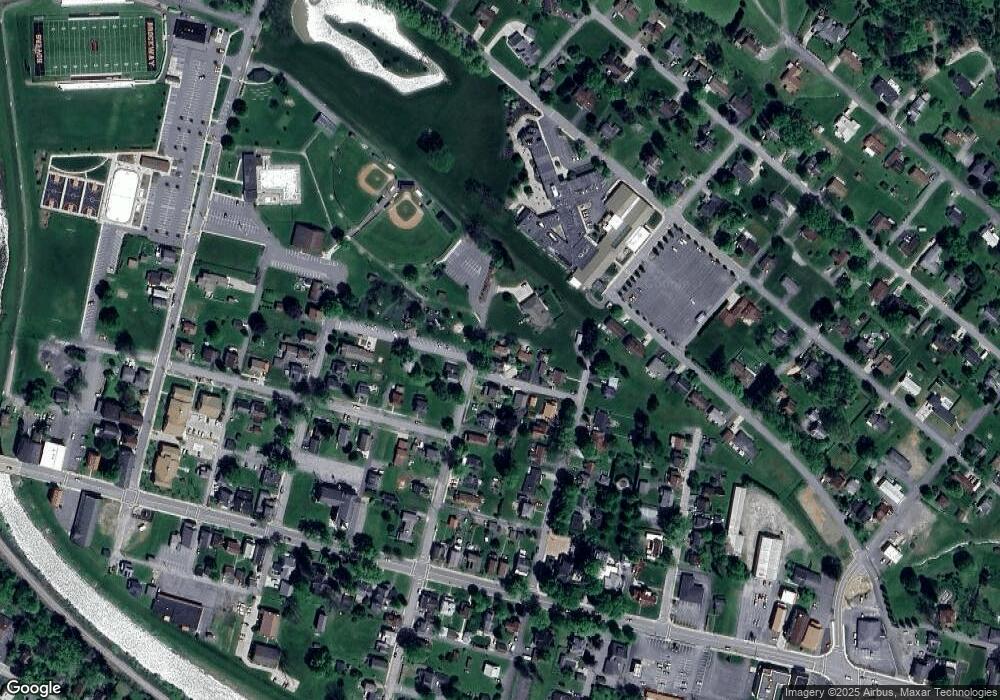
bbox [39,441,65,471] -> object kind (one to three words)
building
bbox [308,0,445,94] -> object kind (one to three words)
pond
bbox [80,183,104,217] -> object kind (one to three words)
basketball court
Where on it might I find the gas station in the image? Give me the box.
[857,614,885,648]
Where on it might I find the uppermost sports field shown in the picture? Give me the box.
[26,13,162,82]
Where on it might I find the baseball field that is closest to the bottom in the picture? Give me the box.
[357,191,444,266]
